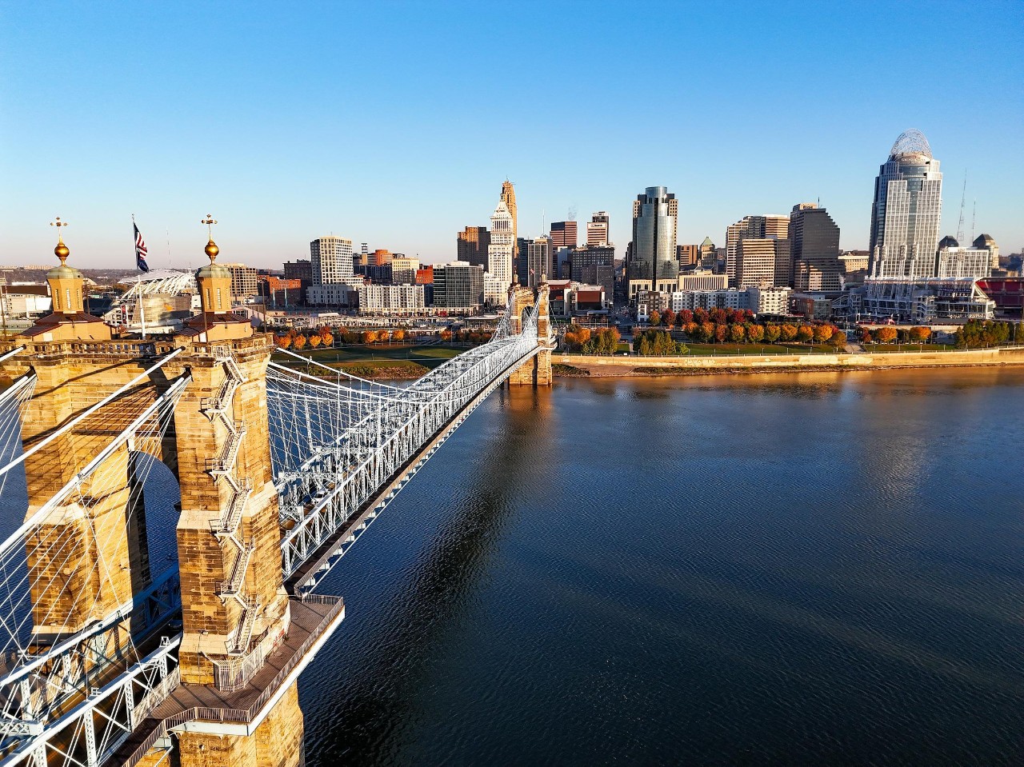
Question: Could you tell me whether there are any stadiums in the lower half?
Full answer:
No, no stadium appears in the lower half.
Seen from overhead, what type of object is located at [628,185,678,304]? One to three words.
building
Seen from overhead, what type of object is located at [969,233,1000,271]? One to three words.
building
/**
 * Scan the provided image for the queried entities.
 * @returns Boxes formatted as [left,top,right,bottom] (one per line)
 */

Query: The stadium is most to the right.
[856,248,1024,330]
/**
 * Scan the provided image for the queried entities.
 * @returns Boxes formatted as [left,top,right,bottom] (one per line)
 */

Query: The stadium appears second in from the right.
[91,269,201,323]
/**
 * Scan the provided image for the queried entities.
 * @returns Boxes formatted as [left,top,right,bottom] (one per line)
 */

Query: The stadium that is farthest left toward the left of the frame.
[0,281,53,319]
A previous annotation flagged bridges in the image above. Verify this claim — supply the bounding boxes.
[0,213,556,767]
